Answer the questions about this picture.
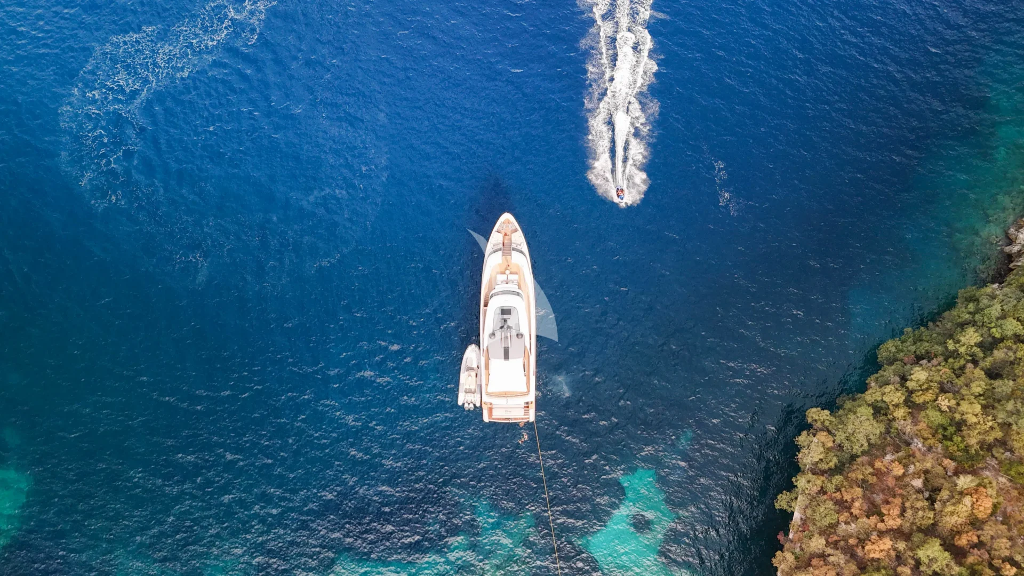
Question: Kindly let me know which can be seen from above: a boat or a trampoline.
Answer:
boat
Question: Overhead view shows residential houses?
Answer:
No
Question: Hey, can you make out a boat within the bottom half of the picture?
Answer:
Yes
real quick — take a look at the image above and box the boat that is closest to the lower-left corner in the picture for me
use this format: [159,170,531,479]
[458,344,481,410]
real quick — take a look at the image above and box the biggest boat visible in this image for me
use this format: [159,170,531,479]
[479,213,537,423]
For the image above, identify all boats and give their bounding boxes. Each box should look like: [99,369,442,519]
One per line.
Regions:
[458,344,481,410]
[479,213,537,423]
[616,183,625,205]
